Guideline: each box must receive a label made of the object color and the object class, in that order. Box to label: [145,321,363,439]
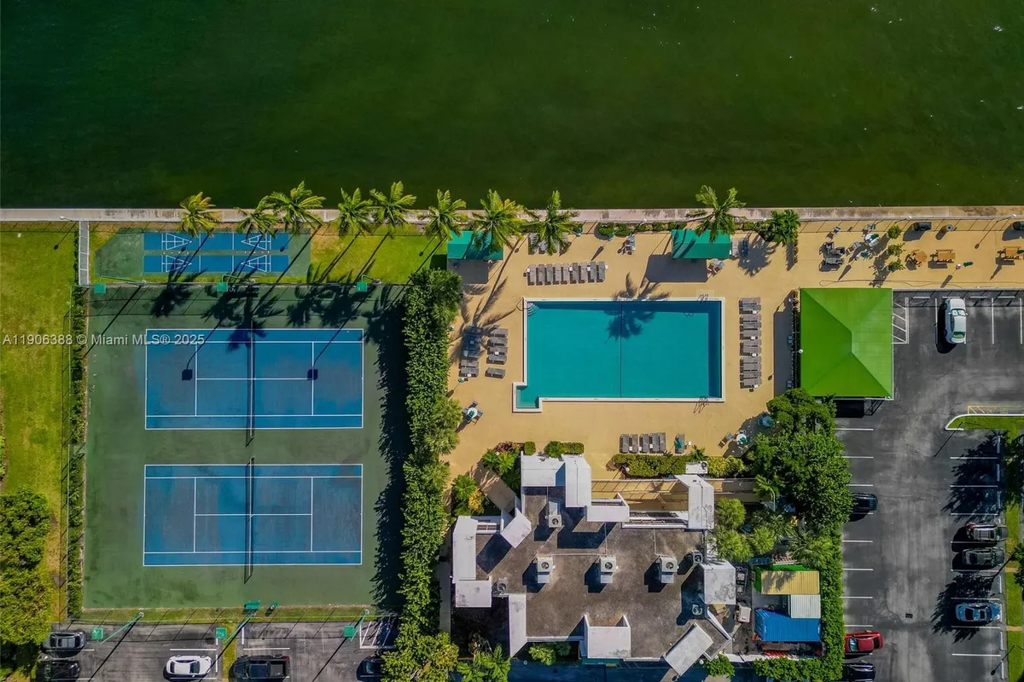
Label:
blue tennis court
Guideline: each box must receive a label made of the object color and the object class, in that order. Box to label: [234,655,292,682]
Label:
black truck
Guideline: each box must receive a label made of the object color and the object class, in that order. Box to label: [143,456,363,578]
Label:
blue tennis court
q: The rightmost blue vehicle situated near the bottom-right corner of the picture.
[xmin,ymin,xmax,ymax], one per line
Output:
[953,601,999,623]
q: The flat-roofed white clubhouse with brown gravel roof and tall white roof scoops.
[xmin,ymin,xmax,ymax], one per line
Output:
[453,447,736,677]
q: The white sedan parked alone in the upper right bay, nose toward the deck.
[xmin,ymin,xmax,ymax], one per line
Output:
[942,298,966,343]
